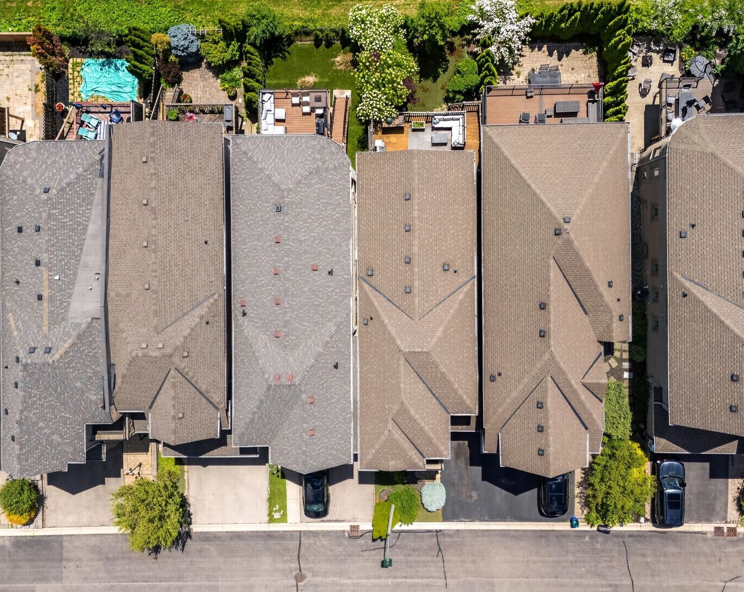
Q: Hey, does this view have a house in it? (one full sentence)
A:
Yes, the photo shows a house.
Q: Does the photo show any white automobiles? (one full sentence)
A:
No, the scene contains no white automobile.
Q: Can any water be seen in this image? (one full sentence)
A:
No, the scene doesn't show any water.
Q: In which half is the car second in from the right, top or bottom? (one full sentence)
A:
The bottom half of the photo is where the car second in from the right is.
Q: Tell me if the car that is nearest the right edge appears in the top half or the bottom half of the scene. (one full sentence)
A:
The car that is nearest the right edge is in the bottom half of the image.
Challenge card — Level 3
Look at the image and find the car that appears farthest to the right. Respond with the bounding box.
[653,454,688,525]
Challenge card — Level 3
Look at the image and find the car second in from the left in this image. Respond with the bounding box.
[539,473,568,515]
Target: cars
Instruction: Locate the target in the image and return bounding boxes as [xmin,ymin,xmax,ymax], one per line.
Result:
[653,454,688,525]
[301,469,332,518]
[539,473,568,515]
